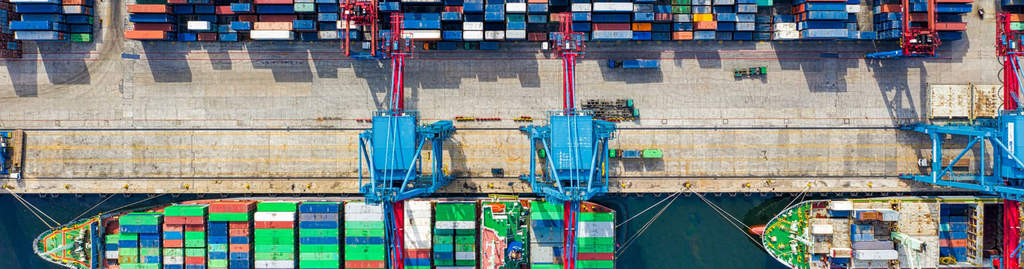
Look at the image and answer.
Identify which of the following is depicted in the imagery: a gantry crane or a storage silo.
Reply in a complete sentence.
The image shows a gantry crane.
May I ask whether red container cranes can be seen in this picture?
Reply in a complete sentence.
Yes, the picture does show a red container crane.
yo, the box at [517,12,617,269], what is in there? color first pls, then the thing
blue container crane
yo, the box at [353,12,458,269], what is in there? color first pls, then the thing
blue container crane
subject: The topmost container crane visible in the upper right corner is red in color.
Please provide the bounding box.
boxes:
[863,0,938,59]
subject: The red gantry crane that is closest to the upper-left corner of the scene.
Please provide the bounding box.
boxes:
[340,0,390,59]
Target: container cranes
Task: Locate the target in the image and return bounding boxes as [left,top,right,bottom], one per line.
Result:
[898,12,1024,269]
[517,12,617,269]
[340,0,390,59]
[863,0,938,59]
[353,12,458,269]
